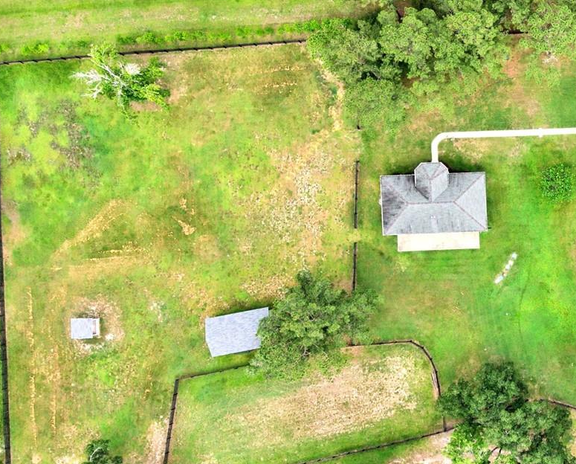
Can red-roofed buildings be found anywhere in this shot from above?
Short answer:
No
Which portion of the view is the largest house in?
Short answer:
right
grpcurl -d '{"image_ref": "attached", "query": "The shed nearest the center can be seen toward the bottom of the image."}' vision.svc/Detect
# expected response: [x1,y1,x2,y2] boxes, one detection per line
[206,307,279,357]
